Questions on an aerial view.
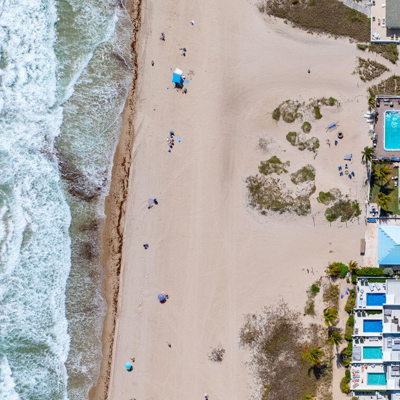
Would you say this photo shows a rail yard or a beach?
beach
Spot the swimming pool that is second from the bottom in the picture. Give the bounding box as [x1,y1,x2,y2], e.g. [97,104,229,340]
[362,346,383,360]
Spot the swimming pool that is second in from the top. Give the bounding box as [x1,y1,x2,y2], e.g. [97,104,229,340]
[366,292,386,307]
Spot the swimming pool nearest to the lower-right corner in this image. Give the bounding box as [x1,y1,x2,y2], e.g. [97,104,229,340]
[366,372,387,386]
